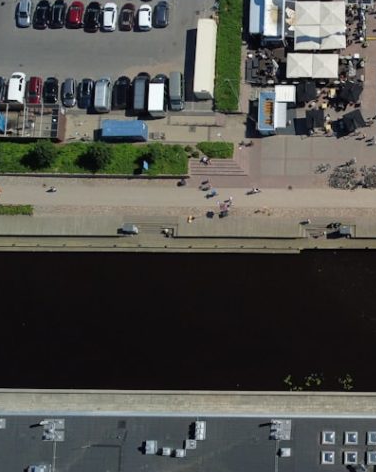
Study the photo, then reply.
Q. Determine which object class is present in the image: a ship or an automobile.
automobile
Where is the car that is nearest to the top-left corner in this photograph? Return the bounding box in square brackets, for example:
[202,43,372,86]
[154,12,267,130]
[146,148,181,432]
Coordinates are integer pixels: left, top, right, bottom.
[17,0,33,30]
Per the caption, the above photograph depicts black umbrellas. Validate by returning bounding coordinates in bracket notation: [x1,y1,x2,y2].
[341,107,368,130]
[331,117,357,139]
[305,109,325,129]
[296,83,317,104]
[338,83,359,104]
